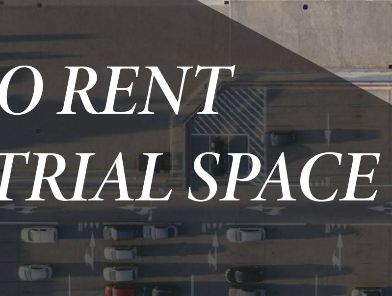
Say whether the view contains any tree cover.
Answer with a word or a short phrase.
No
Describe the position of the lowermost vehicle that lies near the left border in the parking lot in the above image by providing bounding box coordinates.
[19,263,53,281]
